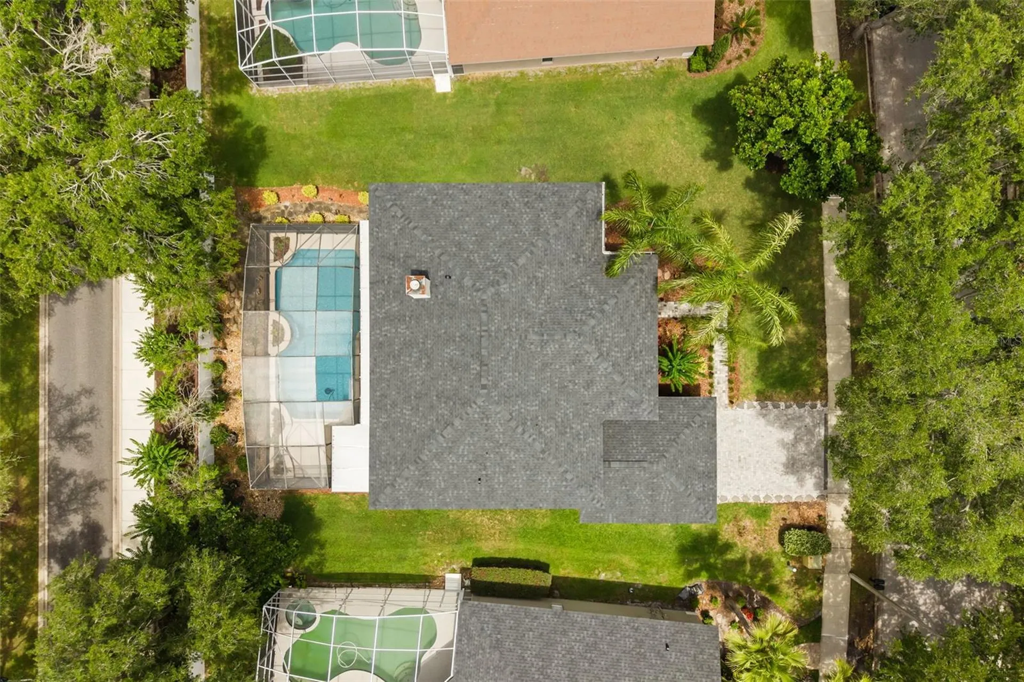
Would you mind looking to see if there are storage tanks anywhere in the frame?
No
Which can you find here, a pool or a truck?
pool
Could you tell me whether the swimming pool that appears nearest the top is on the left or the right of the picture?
left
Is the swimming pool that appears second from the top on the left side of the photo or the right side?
left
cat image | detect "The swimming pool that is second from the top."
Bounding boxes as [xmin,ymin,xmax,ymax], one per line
[271,244,357,423]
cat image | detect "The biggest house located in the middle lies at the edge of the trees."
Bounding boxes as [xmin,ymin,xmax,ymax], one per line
[369,183,717,523]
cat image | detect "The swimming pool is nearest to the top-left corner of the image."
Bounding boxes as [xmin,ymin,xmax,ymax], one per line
[261,0,425,70]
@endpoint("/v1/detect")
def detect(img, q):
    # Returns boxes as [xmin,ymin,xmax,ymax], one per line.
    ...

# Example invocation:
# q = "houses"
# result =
[454,592,719,682]
[441,0,716,74]
[369,183,717,523]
